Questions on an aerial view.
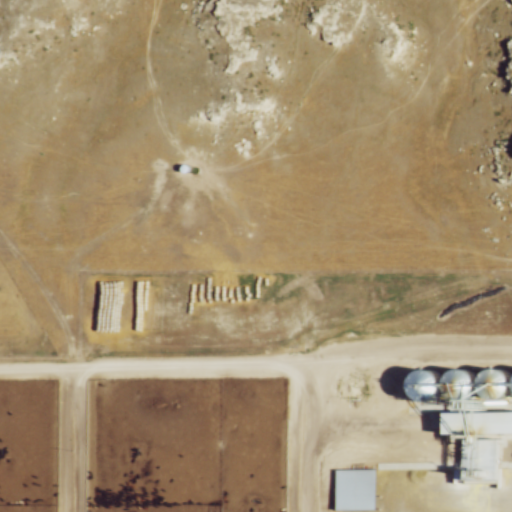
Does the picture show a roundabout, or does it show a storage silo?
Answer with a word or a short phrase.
storage silo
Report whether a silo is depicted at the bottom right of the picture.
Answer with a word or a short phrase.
Yes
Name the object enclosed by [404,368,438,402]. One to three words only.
silo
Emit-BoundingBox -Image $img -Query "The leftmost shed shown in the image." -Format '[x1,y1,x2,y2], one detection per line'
[336,470,376,511]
